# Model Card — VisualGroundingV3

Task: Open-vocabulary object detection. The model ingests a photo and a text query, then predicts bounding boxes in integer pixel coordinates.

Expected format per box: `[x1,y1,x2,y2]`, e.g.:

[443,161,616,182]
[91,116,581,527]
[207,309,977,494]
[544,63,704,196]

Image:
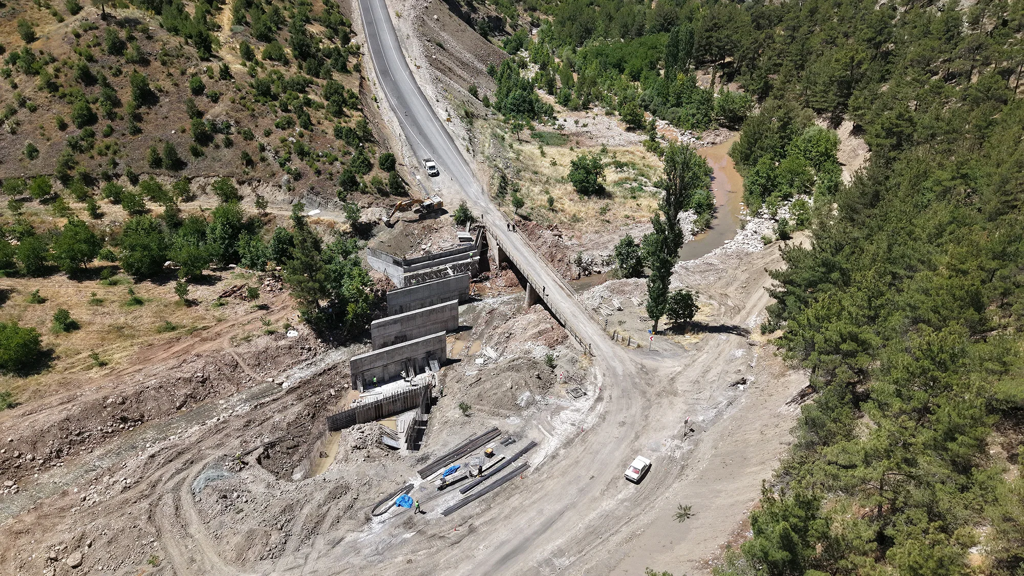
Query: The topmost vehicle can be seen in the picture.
[422,160,439,175]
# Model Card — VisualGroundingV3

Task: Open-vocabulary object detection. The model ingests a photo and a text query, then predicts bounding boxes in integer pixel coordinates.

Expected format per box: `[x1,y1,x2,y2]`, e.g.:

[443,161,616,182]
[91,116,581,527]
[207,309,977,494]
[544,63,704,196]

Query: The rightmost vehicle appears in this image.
[623,450,653,481]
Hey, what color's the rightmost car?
white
